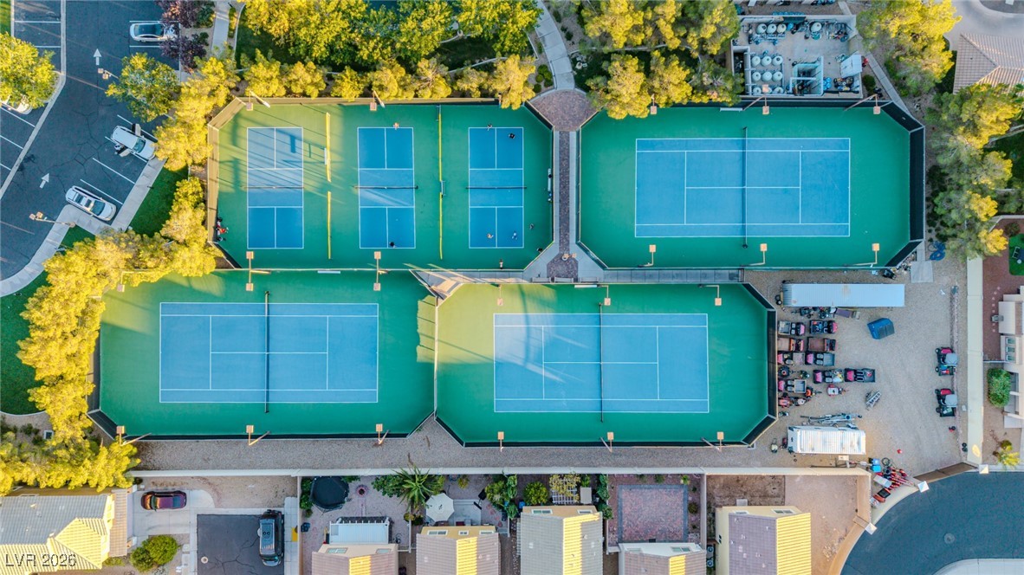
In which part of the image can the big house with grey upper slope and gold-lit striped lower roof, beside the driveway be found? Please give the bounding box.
[0,488,134,572]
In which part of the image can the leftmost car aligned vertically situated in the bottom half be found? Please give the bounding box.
[261,507,284,561]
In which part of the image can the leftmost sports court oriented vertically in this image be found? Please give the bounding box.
[247,128,304,249]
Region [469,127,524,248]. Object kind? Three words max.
sports court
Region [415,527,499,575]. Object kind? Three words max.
house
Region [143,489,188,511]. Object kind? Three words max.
car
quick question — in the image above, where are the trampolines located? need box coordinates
[309,476,350,514]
